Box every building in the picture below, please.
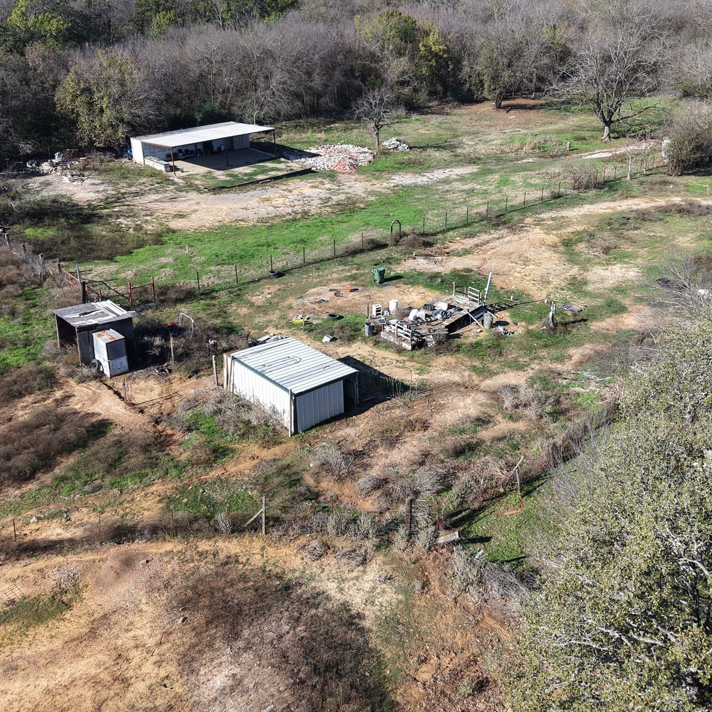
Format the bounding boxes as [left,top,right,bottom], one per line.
[45,296,137,368]
[209,331,362,443]
[134,117,278,177]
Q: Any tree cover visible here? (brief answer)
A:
Yes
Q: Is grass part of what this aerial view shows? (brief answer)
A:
Yes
